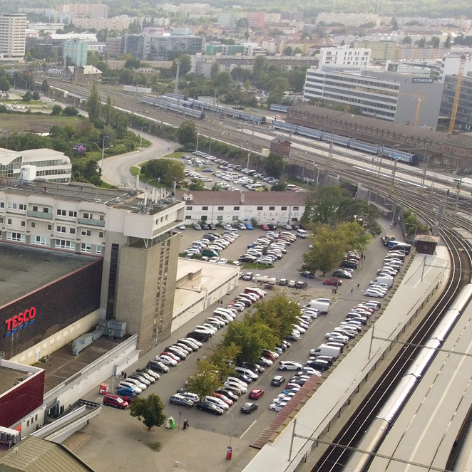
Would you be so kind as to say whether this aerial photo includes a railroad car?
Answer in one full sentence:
Yes, a railroad car is visible in the scene.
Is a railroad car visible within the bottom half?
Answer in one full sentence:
Yes, a railroad car is visible within the bottom half.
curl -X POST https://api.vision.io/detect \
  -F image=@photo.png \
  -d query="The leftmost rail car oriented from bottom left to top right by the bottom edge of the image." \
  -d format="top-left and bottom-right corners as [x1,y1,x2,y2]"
[340,419,391,472]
